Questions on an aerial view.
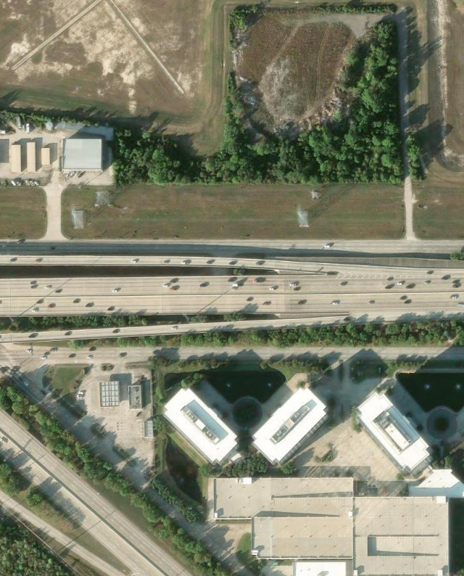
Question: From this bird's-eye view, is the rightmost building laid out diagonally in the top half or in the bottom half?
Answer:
bottom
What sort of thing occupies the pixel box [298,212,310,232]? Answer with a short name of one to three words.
pylon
